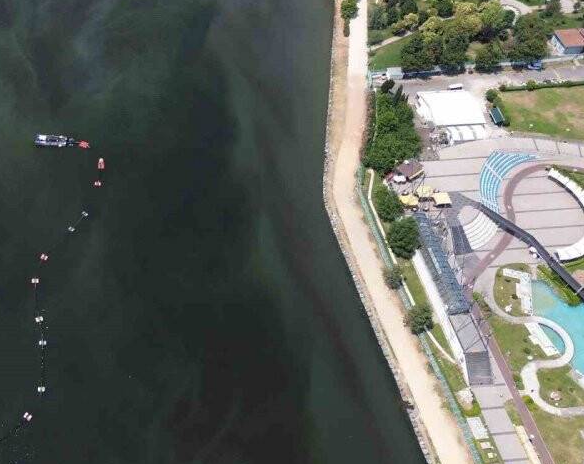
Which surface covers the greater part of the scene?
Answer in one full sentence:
The scene is dominated by water.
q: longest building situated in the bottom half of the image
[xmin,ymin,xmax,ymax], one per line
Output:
[408,211,492,387]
